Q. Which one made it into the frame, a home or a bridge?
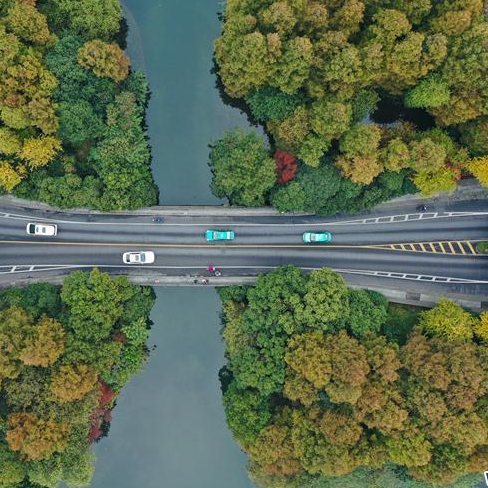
bridge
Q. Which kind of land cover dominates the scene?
trees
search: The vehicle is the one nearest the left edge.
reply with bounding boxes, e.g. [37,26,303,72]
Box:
[26,220,58,235]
